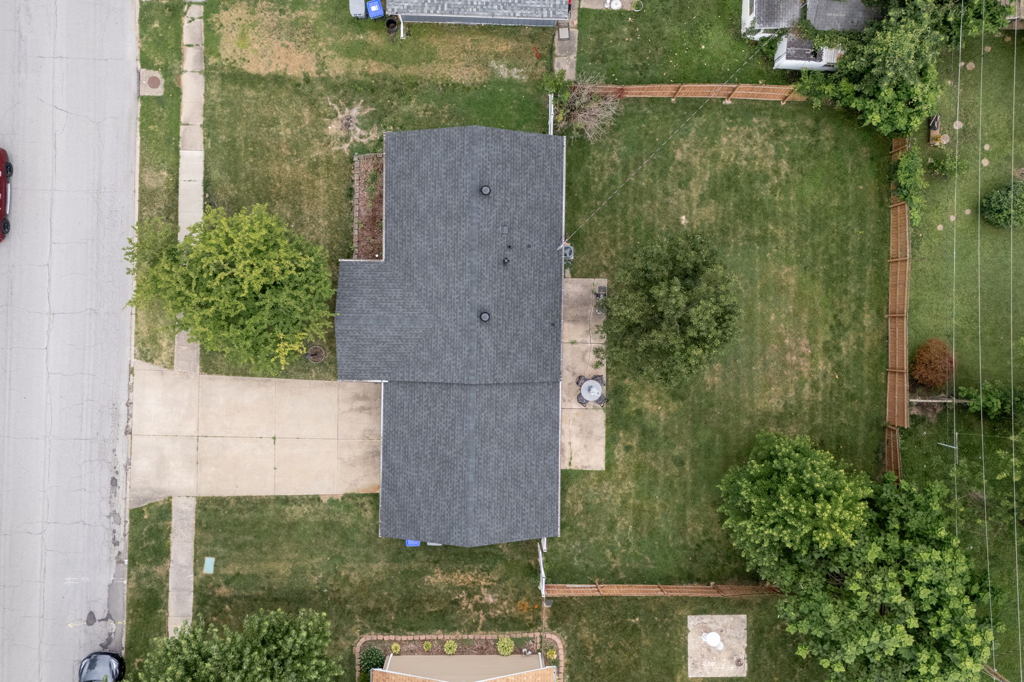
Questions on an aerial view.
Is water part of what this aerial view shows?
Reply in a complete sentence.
No, no water is visible.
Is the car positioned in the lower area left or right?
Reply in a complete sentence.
The car positioned in the lower area sits on the left side.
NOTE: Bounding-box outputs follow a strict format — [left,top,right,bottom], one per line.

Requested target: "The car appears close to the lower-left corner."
[79,653,125,682]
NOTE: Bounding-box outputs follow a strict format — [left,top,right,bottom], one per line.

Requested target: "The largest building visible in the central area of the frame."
[335,125,567,547]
